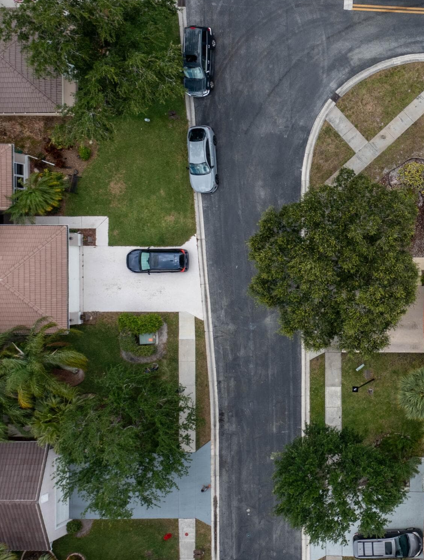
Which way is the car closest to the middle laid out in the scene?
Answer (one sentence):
From this overhead view, the car closest to the middle appears to run horizontally.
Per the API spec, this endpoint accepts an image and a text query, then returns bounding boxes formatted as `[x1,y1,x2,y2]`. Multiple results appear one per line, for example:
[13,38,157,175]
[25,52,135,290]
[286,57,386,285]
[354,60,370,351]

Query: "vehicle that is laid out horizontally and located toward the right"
[346,527,421,560]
